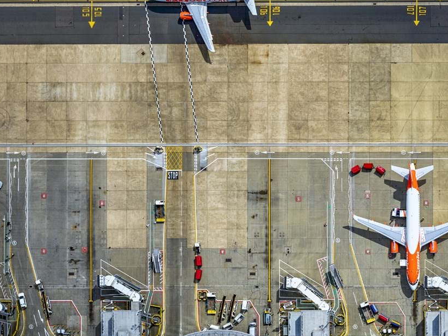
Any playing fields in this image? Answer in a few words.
No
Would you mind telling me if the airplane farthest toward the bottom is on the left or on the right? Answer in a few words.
right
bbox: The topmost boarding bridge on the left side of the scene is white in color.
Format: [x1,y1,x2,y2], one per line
[98,275,146,301]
